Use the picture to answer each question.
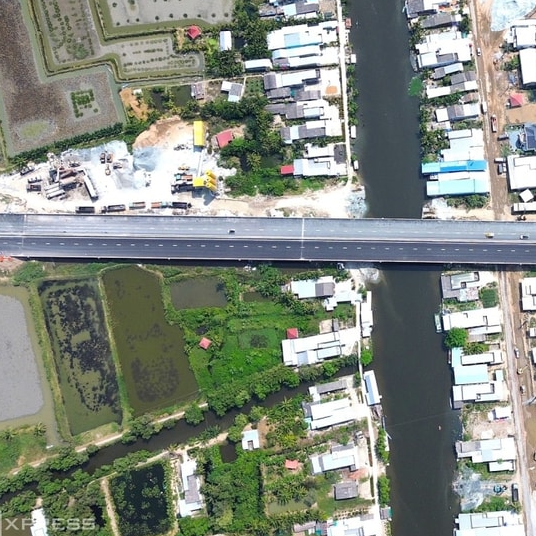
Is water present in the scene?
Yes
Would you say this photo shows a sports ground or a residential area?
residential area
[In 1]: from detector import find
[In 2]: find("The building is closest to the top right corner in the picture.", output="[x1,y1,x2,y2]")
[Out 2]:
[506,19,536,49]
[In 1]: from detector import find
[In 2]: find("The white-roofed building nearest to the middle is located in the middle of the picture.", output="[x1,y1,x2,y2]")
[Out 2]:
[281,276,335,298]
